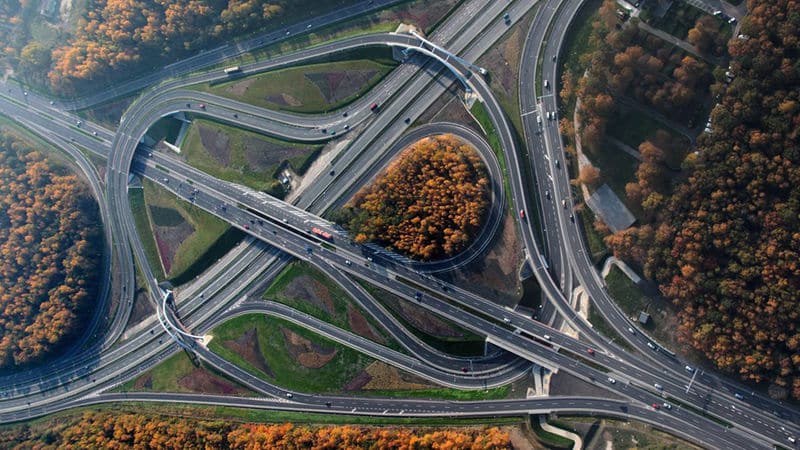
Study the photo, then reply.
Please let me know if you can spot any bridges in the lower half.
Yes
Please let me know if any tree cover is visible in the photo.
Yes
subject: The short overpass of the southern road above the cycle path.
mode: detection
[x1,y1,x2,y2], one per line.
[522,394,555,415]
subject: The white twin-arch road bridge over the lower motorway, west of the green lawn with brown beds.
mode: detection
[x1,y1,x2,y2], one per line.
[152,292,212,359]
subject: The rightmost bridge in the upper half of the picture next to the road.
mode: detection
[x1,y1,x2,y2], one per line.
[388,28,488,95]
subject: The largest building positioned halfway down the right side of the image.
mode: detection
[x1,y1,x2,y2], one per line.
[591,184,638,232]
